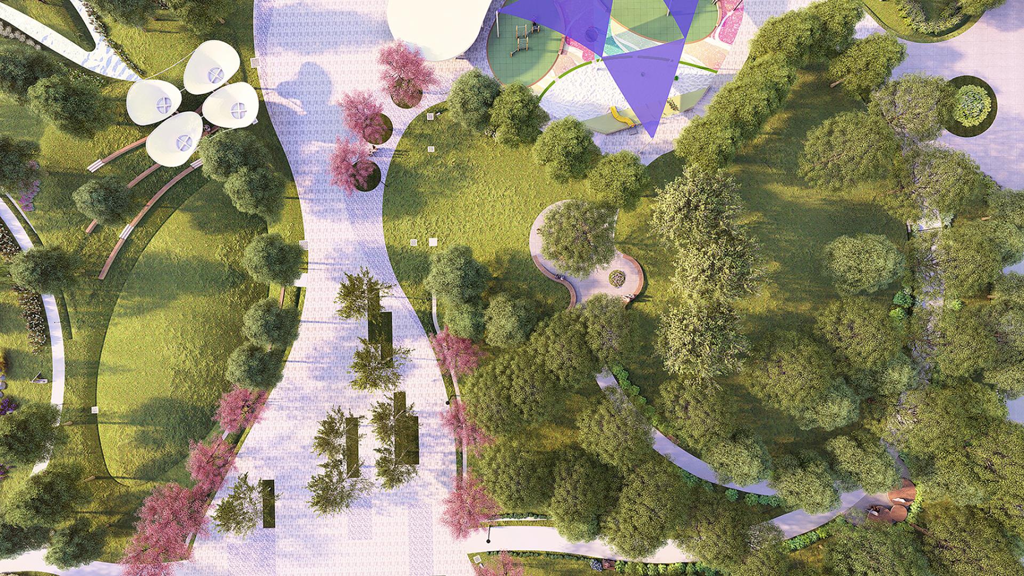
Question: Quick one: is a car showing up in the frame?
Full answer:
No, no car is visible in the scene.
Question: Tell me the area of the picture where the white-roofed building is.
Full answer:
The white-roofed building is in the top part of the image.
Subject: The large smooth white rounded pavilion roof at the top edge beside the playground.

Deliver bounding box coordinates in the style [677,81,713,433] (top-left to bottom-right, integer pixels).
[387,0,493,62]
